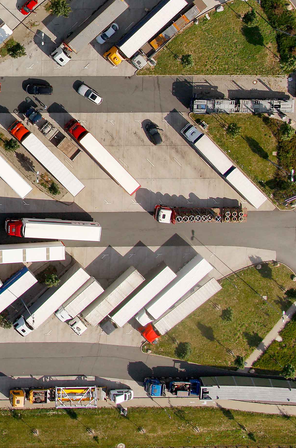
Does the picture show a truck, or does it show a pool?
truck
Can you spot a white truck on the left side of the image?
Yes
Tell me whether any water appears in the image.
No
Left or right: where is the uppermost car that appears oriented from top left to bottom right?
left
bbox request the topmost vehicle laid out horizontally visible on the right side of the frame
[185,97,295,115]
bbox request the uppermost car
[19,0,39,17]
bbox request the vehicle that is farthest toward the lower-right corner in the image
[141,378,203,397]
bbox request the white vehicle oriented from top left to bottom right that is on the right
[177,120,267,209]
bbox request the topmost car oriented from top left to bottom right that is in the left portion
[77,83,103,106]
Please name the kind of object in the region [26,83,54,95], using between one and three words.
vehicle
